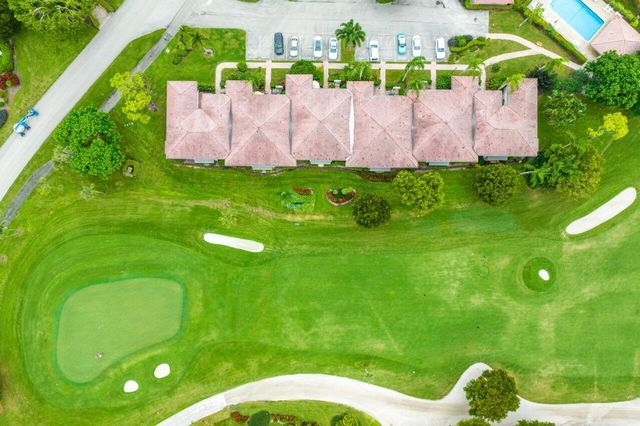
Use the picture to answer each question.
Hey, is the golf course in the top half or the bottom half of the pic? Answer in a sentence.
It is in the bottom half that the golf course appears.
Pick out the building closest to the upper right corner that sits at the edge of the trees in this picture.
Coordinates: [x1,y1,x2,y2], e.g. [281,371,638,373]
[586,13,640,55]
